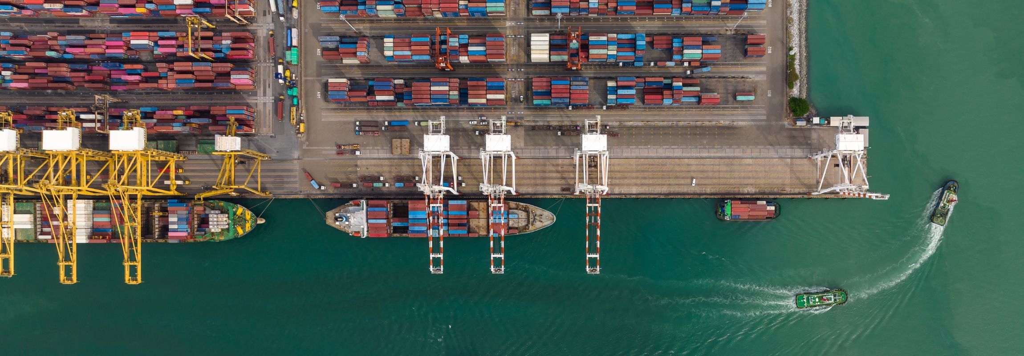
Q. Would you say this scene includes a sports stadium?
No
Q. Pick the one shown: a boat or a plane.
boat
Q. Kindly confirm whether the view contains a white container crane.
Yes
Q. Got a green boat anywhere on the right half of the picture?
Yes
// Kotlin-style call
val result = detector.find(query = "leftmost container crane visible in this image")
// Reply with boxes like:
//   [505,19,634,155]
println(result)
[0,112,74,285]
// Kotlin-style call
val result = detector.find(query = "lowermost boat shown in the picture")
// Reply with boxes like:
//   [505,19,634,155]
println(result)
[795,290,848,308]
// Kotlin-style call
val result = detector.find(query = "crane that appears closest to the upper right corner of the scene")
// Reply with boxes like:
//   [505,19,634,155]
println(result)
[801,112,891,200]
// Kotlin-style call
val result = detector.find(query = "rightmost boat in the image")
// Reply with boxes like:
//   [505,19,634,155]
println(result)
[930,180,957,227]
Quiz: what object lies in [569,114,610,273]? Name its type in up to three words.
container crane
